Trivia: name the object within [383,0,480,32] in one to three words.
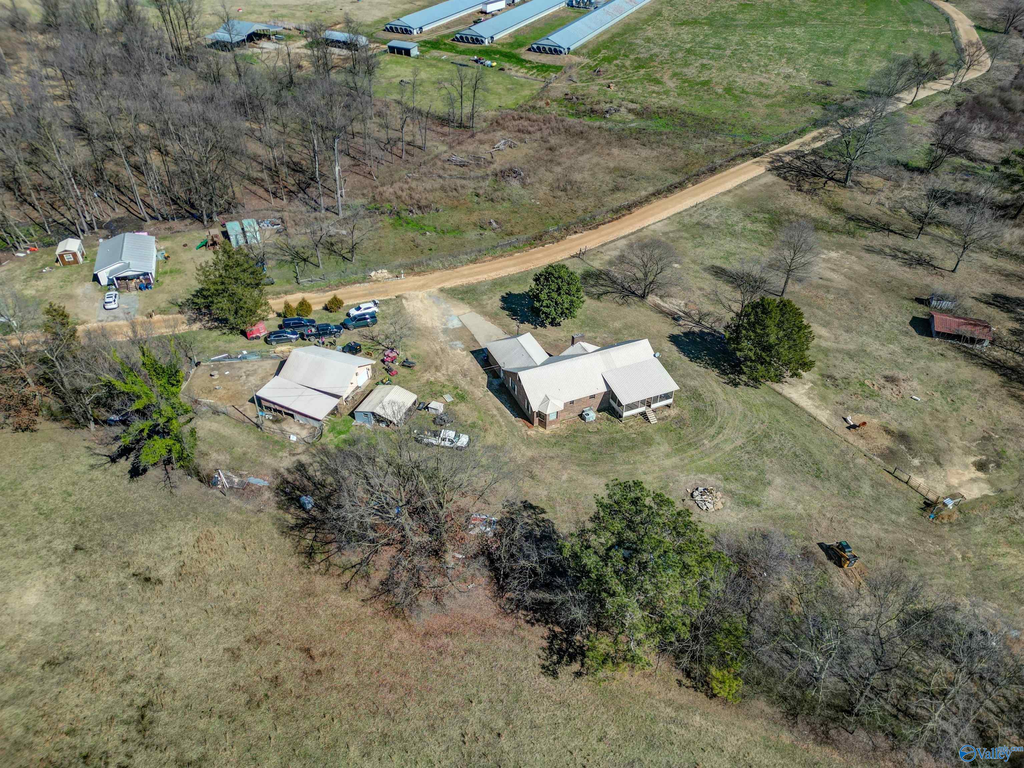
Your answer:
building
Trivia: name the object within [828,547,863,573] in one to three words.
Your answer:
work vehicle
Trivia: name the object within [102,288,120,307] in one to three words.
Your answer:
car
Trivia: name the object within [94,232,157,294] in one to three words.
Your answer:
house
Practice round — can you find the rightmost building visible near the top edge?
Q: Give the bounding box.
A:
[528,0,647,53]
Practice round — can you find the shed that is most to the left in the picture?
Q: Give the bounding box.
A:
[55,239,84,266]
